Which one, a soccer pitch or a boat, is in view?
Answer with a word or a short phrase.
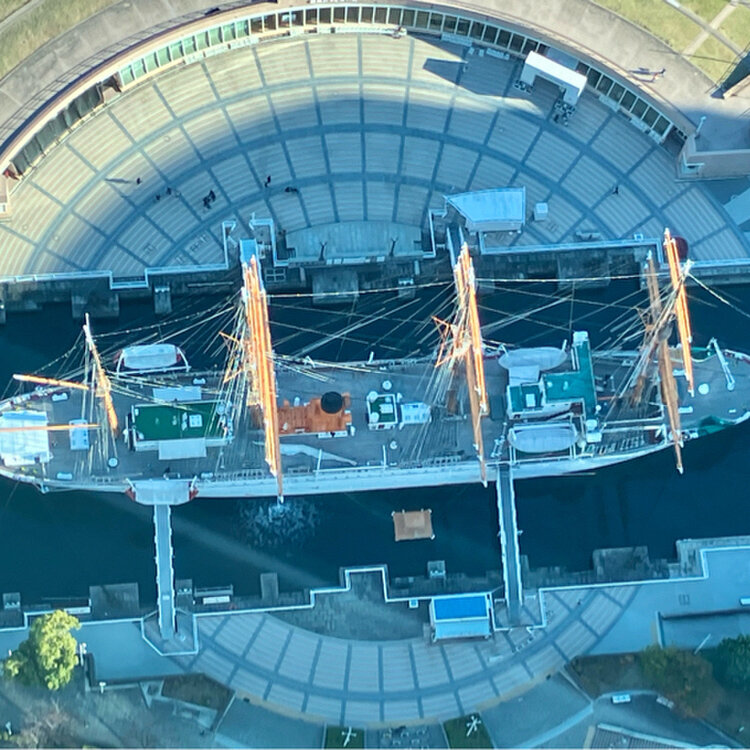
boat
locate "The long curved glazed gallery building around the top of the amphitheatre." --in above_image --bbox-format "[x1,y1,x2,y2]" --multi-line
[0,0,688,193]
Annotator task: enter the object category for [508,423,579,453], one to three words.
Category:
boat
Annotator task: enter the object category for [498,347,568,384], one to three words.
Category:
boat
